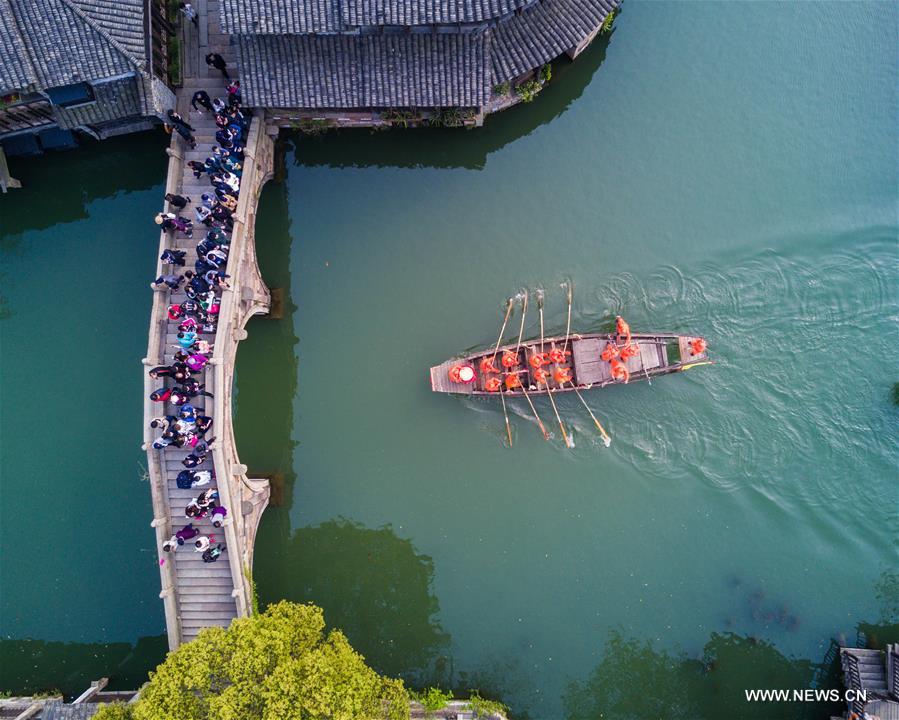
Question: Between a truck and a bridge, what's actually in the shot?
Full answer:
Of the two, only a bridge appears.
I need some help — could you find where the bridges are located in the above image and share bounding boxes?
[138,104,285,679]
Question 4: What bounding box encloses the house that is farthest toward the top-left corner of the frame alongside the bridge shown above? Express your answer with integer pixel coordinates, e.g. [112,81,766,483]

[0,0,176,164]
